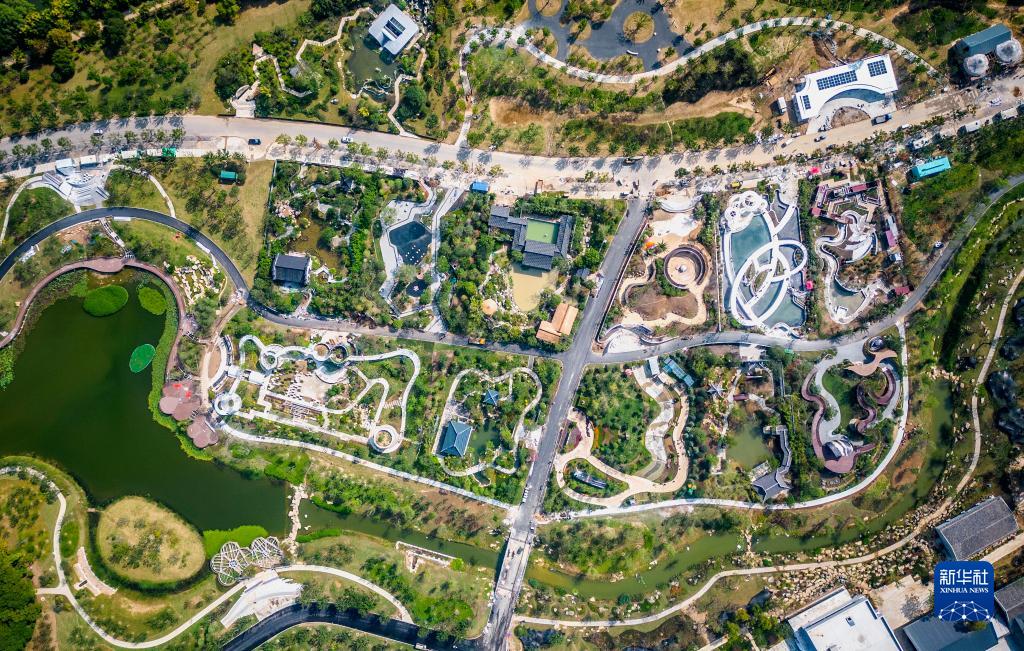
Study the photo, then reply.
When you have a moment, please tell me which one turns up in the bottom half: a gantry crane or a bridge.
bridge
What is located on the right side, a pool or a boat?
pool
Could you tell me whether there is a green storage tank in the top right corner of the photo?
No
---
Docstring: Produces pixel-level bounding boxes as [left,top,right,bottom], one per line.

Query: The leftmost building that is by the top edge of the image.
[369,2,423,55]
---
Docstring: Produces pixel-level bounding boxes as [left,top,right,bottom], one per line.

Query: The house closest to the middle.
[537,303,578,344]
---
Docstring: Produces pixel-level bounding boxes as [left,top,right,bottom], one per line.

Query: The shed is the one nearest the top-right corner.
[951,23,1012,58]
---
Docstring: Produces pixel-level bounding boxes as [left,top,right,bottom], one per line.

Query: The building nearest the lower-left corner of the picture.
[209,540,253,587]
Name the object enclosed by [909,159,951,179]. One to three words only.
shed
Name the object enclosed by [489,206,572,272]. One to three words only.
house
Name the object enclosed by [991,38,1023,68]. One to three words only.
storage tank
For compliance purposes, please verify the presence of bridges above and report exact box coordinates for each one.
[496,517,532,603]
